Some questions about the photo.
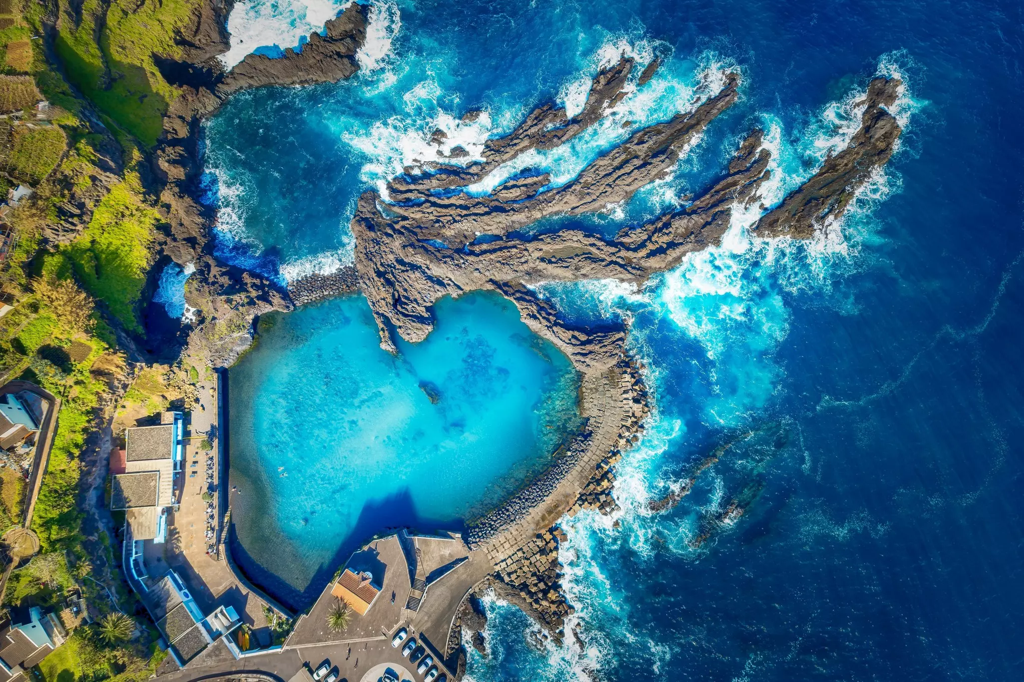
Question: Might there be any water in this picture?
Yes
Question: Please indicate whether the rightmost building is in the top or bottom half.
bottom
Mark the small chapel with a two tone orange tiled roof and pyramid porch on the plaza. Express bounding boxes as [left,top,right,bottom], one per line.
[330,566,381,617]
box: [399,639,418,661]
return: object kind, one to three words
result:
car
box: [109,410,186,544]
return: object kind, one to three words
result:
building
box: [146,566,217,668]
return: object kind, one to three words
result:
building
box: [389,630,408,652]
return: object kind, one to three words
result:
car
